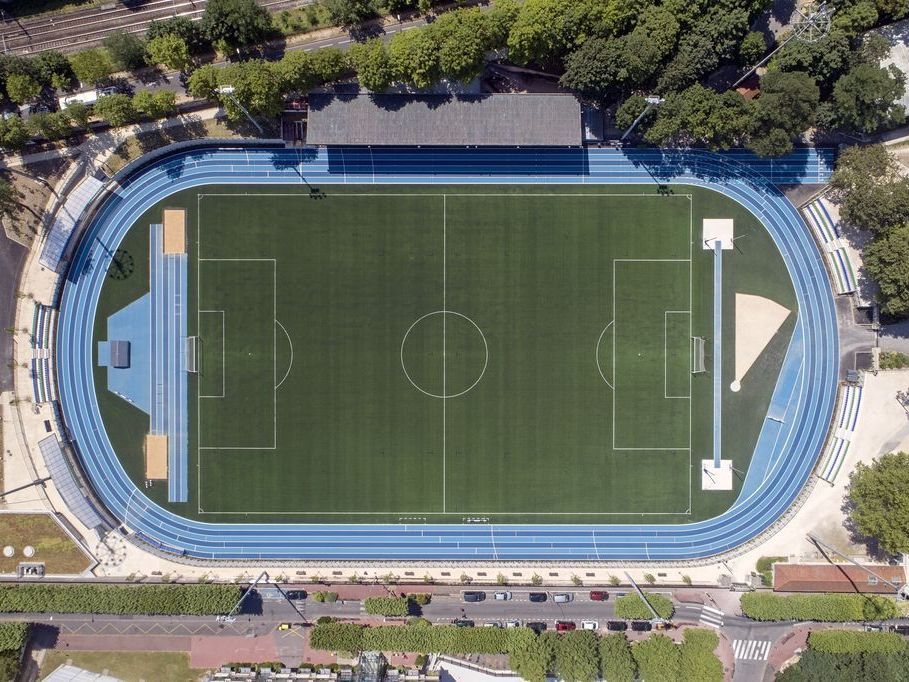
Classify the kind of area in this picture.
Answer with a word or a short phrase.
sports ground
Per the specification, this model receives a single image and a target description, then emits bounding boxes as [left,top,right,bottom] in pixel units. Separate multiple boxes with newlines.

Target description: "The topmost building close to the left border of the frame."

[0,510,100,575]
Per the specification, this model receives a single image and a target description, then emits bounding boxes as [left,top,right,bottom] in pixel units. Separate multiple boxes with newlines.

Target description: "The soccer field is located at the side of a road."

[196,192,693,524]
